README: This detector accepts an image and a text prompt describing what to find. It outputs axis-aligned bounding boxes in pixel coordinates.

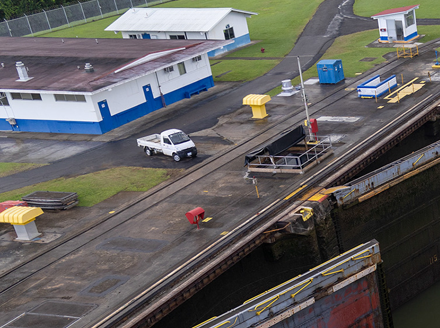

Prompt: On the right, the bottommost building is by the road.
[315,58,350,83]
